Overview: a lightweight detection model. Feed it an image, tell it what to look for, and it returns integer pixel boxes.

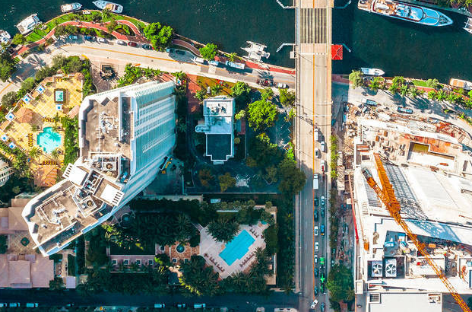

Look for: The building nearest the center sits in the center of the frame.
[196,98,238,164]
